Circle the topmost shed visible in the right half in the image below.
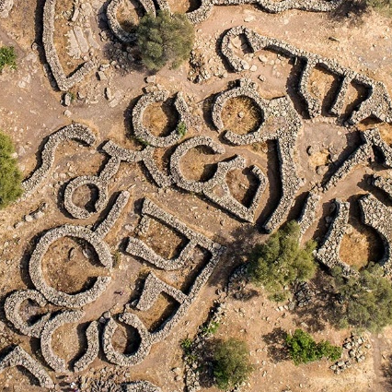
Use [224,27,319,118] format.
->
[211,81,271,144]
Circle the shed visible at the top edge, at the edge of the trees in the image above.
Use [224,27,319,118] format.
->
[105,0,156,45]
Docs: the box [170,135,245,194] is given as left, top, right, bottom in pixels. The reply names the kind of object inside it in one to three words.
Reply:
shed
